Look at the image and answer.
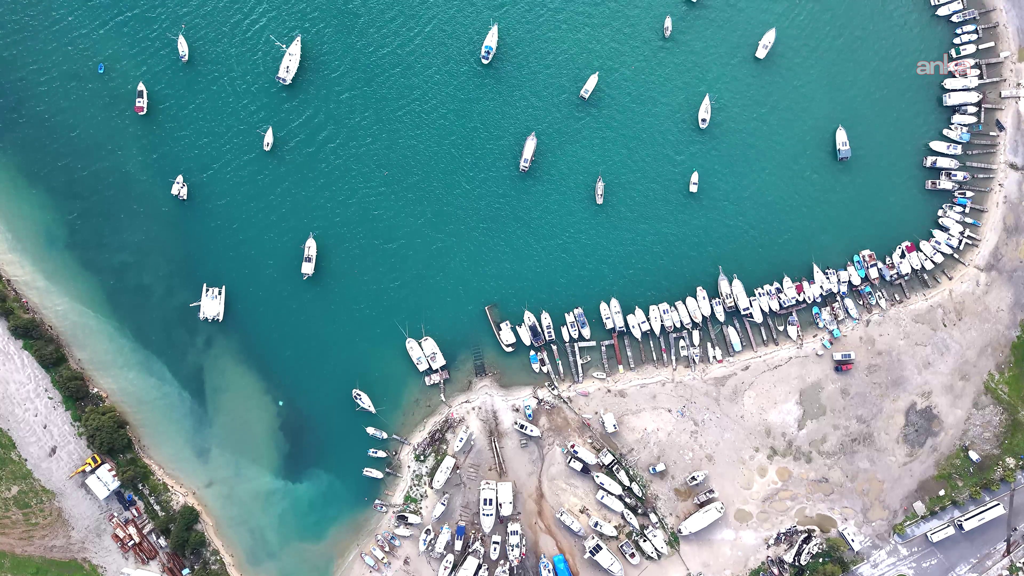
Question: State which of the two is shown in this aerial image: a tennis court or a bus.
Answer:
bus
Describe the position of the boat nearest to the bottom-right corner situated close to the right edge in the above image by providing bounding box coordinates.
[966,450,983,464]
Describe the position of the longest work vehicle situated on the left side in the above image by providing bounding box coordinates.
[68,452,106,481]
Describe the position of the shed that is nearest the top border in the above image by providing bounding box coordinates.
[84,463,123,500]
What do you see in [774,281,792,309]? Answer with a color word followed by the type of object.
white boat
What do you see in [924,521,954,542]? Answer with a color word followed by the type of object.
white bus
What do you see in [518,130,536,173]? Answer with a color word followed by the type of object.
white boat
